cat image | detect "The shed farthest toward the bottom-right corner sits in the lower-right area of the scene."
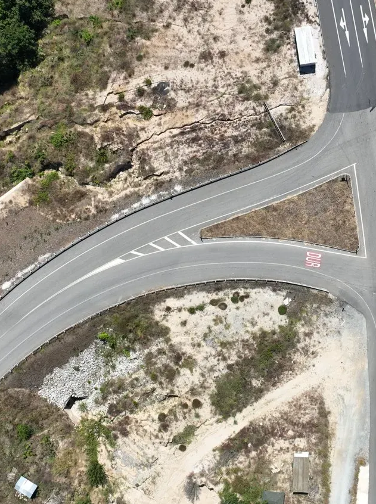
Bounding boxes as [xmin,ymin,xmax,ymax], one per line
[293,453,309,494]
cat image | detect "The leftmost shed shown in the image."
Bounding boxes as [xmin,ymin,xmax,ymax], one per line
[15,476,39,498]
